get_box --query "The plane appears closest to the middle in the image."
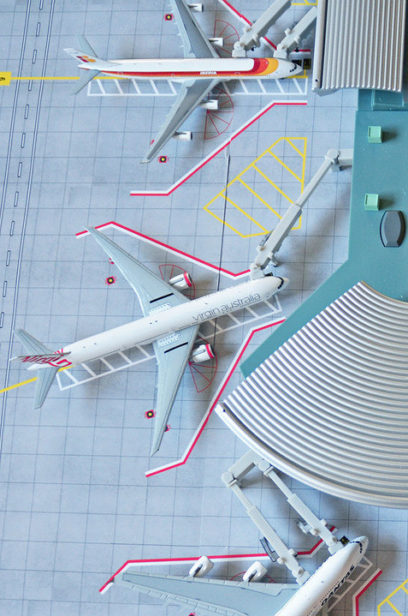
[9,225,290,454]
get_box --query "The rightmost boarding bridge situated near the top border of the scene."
[273,2,318,63]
